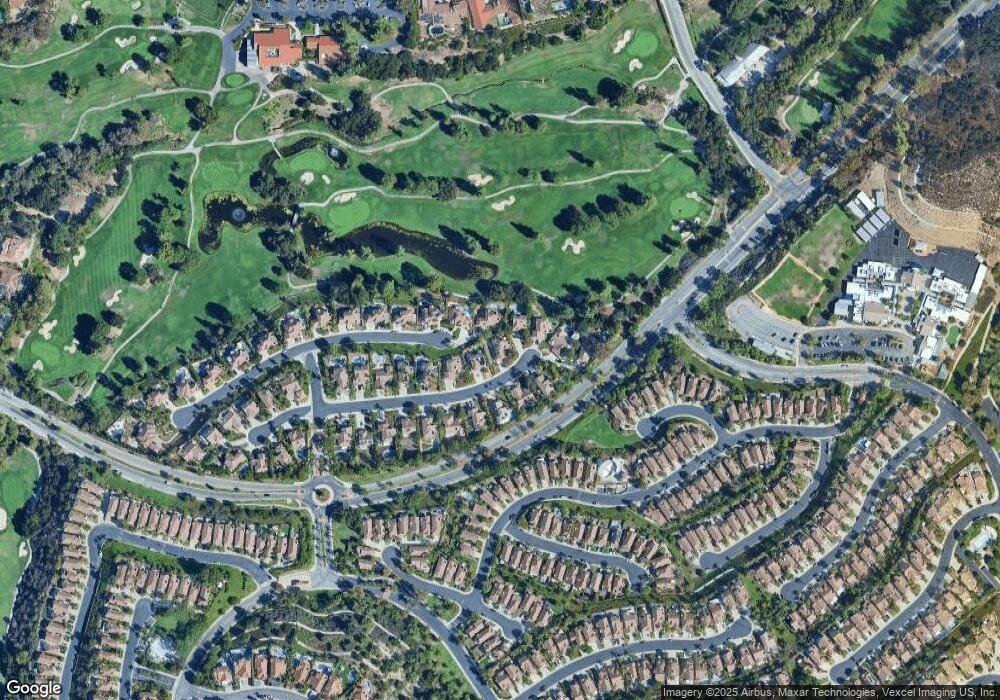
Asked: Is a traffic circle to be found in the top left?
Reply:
No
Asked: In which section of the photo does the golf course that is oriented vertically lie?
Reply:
bottom left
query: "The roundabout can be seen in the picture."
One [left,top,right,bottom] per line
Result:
[302,474,344,515]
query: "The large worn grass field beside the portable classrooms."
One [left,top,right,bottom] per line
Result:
[791,205,863,285]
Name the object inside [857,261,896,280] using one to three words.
building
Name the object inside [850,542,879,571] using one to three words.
house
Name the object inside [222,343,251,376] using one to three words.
house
